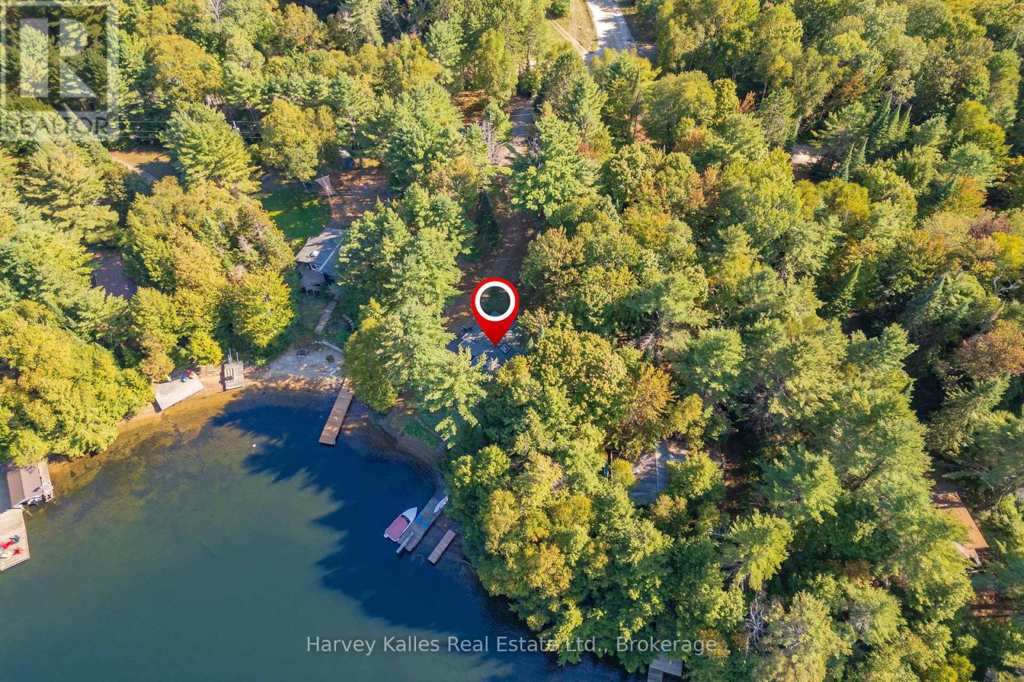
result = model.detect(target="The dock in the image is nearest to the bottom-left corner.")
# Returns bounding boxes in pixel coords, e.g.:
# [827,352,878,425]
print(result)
[0,509,31,573]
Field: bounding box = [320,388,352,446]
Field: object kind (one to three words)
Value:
pier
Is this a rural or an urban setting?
rural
